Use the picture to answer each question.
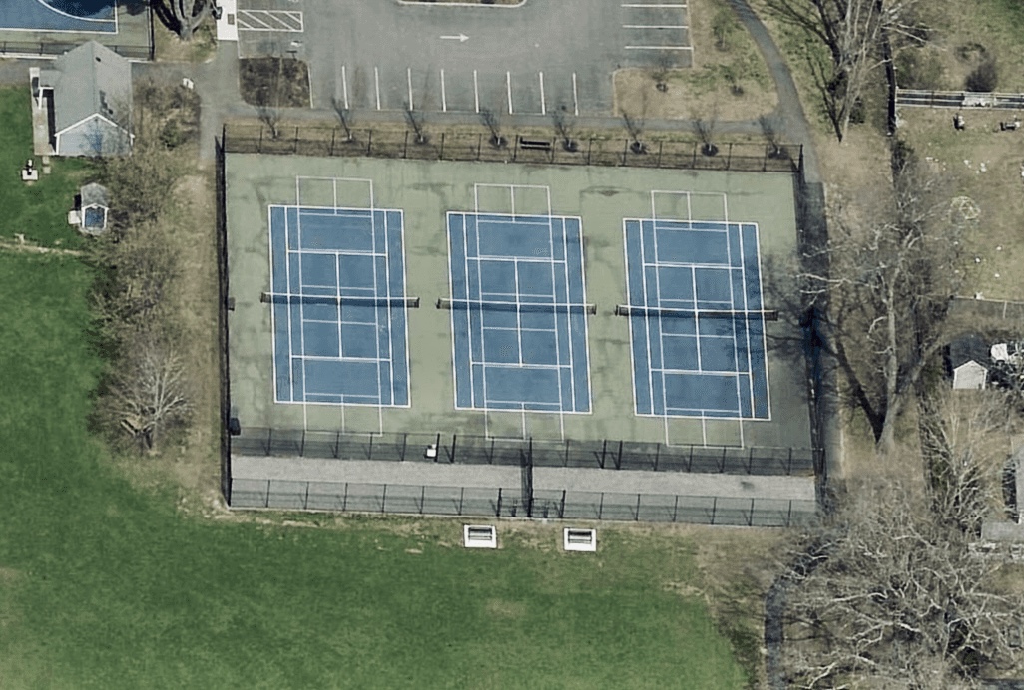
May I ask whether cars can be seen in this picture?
No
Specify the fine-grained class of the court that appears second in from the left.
tennis court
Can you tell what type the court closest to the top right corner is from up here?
tennis court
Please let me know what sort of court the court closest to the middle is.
tennis court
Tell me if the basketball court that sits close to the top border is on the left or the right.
left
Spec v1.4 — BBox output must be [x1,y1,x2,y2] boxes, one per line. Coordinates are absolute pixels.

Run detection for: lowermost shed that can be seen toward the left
[82,184,110,234]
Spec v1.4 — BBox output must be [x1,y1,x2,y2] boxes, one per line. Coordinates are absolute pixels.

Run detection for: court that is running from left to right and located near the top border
[0,0,152,60]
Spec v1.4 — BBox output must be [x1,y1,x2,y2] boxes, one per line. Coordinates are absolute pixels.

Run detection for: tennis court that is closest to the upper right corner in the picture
[624,190,771,450]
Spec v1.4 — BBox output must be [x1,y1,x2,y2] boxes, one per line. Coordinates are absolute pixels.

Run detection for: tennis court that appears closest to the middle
[447,184,592,443]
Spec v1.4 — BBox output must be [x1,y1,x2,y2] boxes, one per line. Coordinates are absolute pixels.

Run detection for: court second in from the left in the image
[269,177,411,437]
